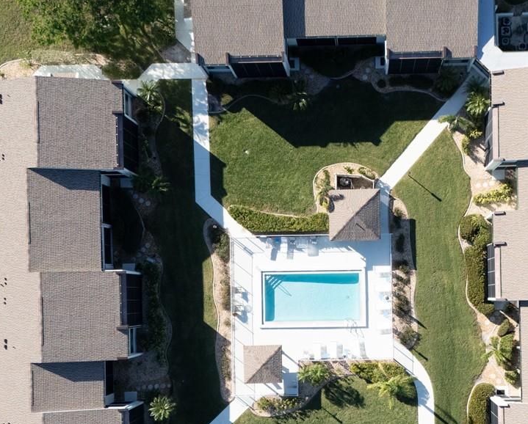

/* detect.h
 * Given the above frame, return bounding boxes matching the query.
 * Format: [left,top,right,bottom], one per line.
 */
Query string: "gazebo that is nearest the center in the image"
[328,189,381,242]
